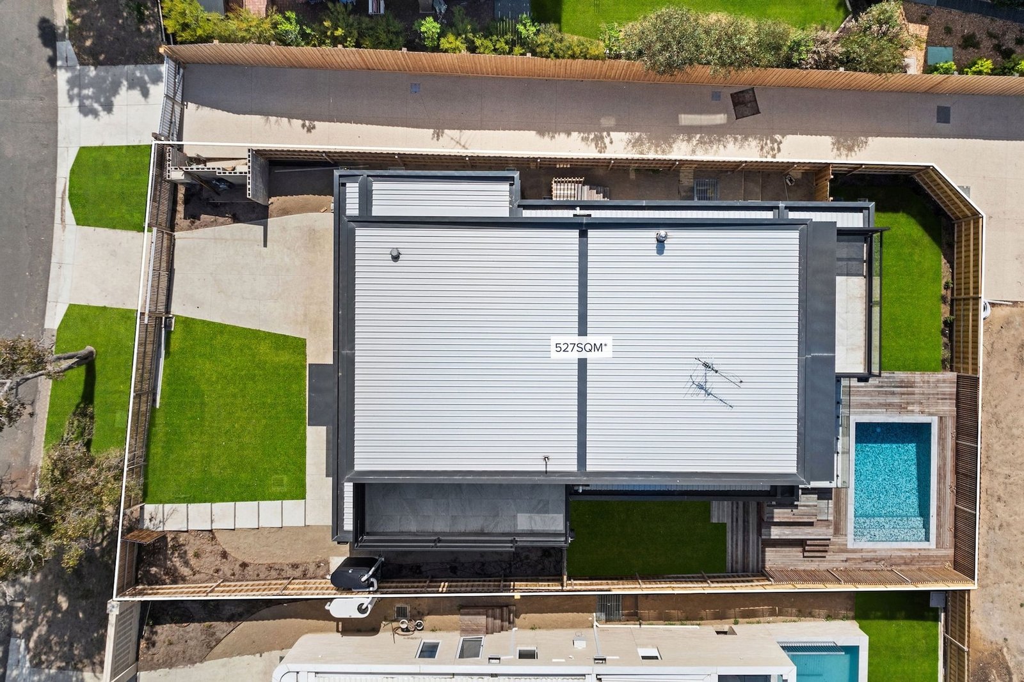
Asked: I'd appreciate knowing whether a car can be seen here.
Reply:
No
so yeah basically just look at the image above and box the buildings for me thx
[277,614,796,682]
[309,171,890,556]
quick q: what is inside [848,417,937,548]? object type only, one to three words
swimming pool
